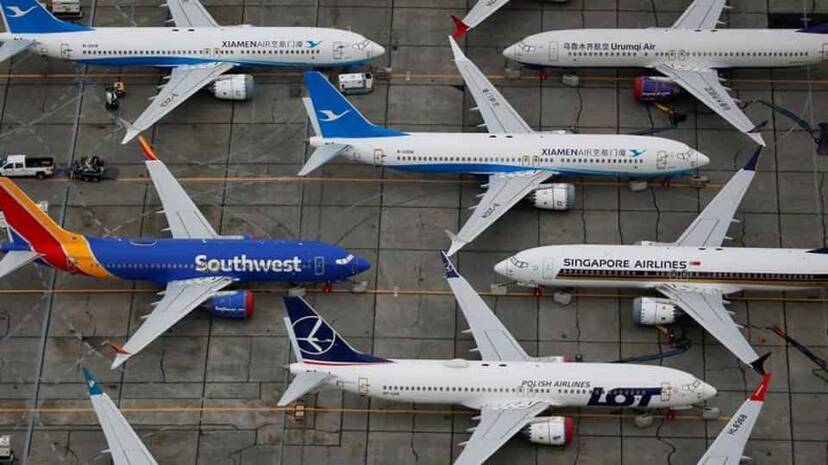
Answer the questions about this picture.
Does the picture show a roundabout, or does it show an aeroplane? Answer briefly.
aeroplane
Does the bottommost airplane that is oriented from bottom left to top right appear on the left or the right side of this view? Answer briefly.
right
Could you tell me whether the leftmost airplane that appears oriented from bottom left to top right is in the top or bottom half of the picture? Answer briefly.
top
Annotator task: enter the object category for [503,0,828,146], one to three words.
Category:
airplane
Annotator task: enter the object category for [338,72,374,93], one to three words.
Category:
vehicle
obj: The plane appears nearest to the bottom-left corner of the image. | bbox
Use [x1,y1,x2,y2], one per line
[83,367,155,465]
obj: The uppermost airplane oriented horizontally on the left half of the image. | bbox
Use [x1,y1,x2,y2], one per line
[0,0,385,142]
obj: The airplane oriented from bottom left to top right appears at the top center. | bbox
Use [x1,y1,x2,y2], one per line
[446,0,501,37]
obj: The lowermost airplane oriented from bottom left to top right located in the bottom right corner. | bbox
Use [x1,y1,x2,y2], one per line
[698,374,771,465]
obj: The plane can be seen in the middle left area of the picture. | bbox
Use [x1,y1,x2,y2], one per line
[0,136,370,367]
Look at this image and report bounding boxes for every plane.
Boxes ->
[83,367,155,465]
[698,374,771,465]
[0,0,385,142]
[494,143,828,376]
[276,251,717,465]
[298,35,710,254]
[0,136,370,367]
[503,0,828,146]
[446,0,501,37]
